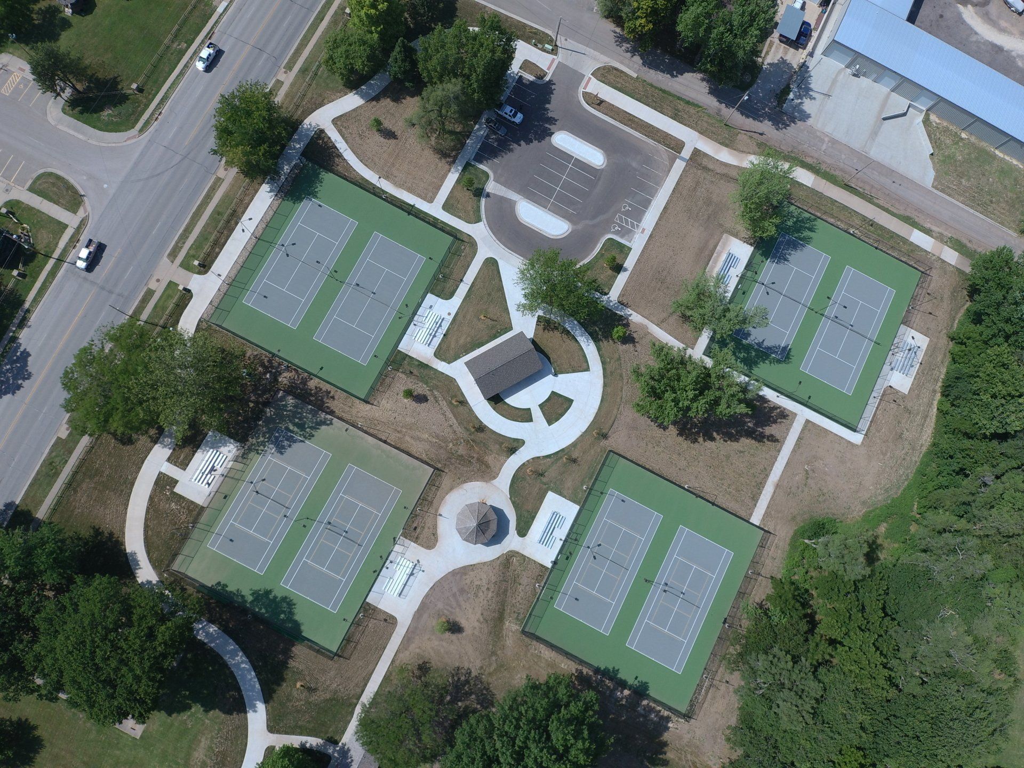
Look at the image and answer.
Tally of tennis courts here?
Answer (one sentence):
In total, 8 tennis courts can be seen.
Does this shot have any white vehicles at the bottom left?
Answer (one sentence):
No, there is no white vehicle at the bottom left.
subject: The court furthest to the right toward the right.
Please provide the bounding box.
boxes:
[801,266,896,395]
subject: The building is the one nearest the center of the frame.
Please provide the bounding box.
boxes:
[465,332,543,400]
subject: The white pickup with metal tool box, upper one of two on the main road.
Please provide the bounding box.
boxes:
[193,41,219,70]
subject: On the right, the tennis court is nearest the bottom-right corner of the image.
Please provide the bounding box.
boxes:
[626,525,734,674]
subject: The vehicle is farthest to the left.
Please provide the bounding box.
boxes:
[74,238,100,271]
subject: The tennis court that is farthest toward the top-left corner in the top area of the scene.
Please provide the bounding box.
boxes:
[243,196,358,329]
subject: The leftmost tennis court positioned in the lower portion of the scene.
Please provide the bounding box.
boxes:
[208,426,331,575]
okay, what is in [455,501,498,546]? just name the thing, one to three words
gazebo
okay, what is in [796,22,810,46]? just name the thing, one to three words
car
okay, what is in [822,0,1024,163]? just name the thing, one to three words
building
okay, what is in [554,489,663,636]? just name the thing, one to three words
tennis court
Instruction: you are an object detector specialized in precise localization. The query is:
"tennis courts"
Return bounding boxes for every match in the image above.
[243,196,358,329]
[626,525,734,674]
[313,231,426,365]
[208,426,331,575]
[281,464,402,614]
[733,232,830,360]
[801,266,896,395]
[554,489,663,636]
